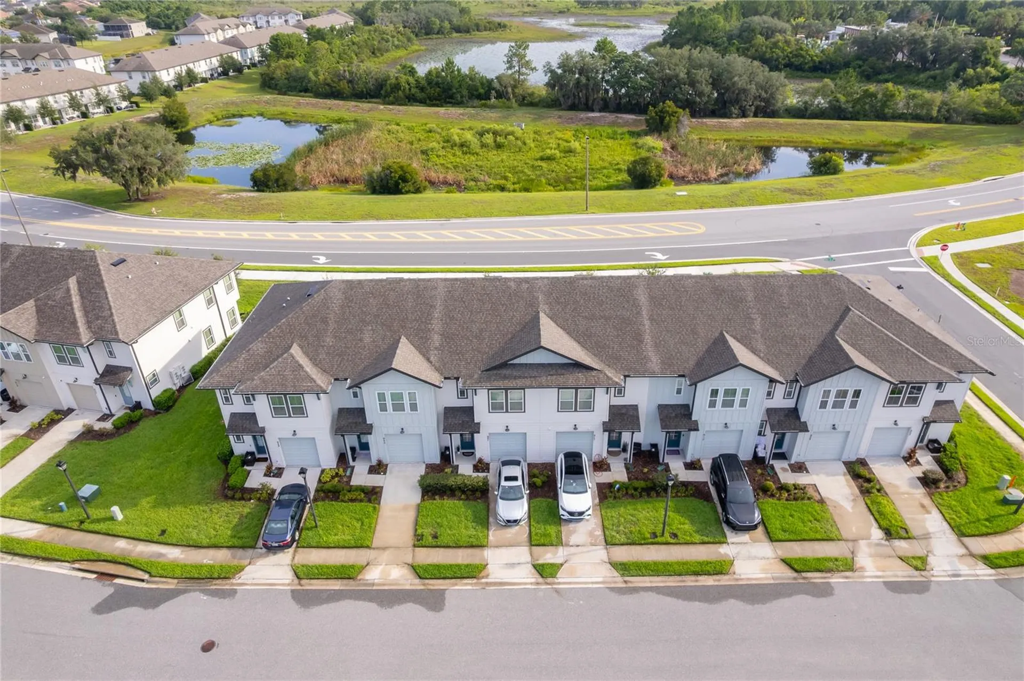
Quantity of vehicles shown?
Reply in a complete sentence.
The photo contains 4 vehicles.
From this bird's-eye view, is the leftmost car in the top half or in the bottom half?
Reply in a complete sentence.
The leftmost car sits in the bottom half of the picture.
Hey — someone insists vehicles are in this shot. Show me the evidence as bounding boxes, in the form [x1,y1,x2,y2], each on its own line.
[556,452,594,516]
[712,453,762,523]
[263,481,311,545]
[493,458,530,522]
